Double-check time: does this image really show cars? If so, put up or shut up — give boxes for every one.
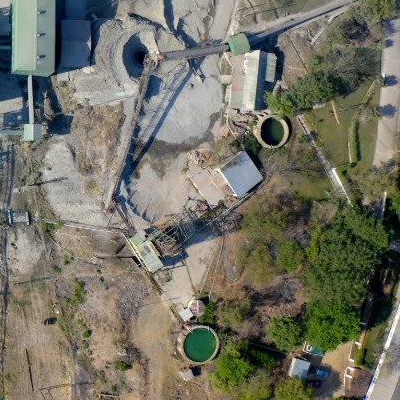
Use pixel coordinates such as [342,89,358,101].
[309,379,324,388]
[315,369,331,378]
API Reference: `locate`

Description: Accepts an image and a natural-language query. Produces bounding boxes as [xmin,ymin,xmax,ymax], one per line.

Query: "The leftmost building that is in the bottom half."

[124,226,164,274]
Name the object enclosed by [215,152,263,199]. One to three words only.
shed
